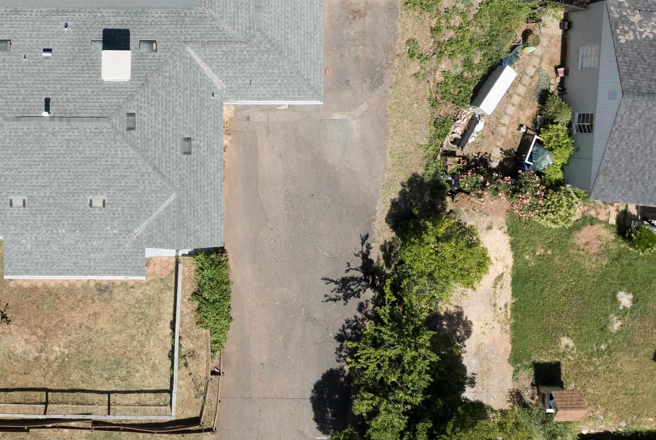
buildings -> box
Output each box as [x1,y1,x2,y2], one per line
[518,380,588,422]
[563,0,656,239]
[0,0,325,282]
